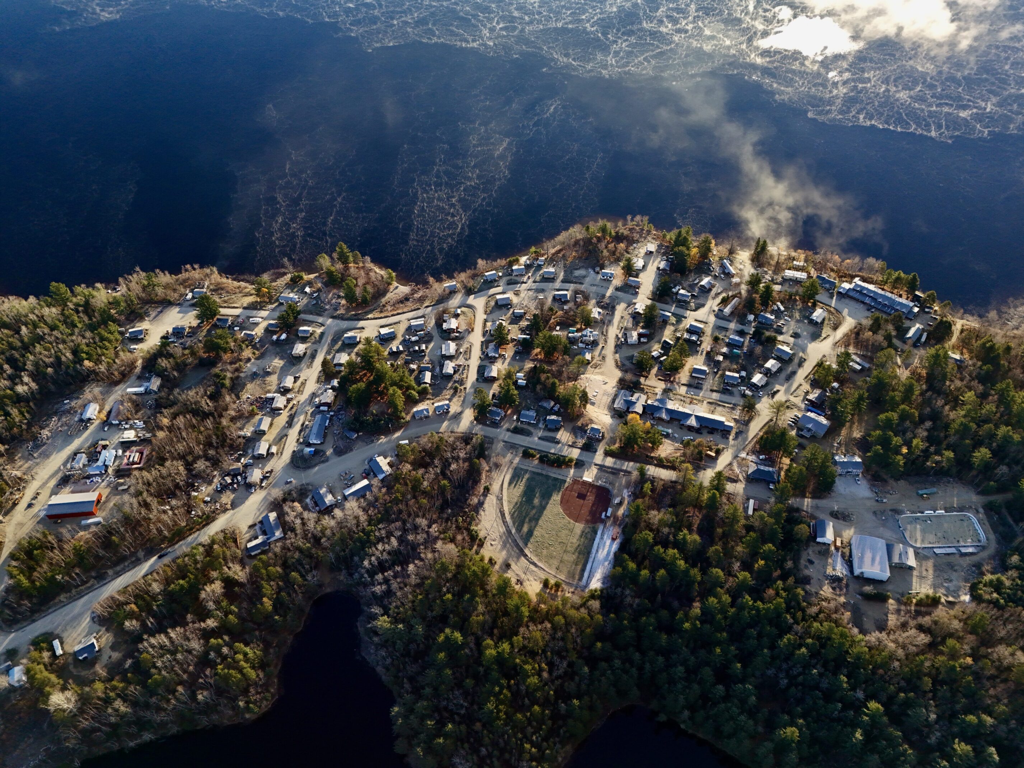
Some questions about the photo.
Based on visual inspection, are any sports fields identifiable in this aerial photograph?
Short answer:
Yes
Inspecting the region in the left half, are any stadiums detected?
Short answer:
No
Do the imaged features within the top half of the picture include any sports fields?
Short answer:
No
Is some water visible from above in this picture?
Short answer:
Yes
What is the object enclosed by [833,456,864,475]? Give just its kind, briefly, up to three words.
house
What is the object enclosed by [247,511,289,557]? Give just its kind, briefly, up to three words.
house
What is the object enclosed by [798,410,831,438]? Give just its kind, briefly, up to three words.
building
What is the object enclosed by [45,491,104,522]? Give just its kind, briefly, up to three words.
barn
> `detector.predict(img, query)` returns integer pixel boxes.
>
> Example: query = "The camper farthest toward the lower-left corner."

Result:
[50,637,62,655]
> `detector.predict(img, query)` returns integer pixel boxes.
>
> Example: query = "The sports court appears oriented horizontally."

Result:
[899,511,987,548]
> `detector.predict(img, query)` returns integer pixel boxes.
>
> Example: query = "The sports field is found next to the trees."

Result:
[507,467,600,584]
